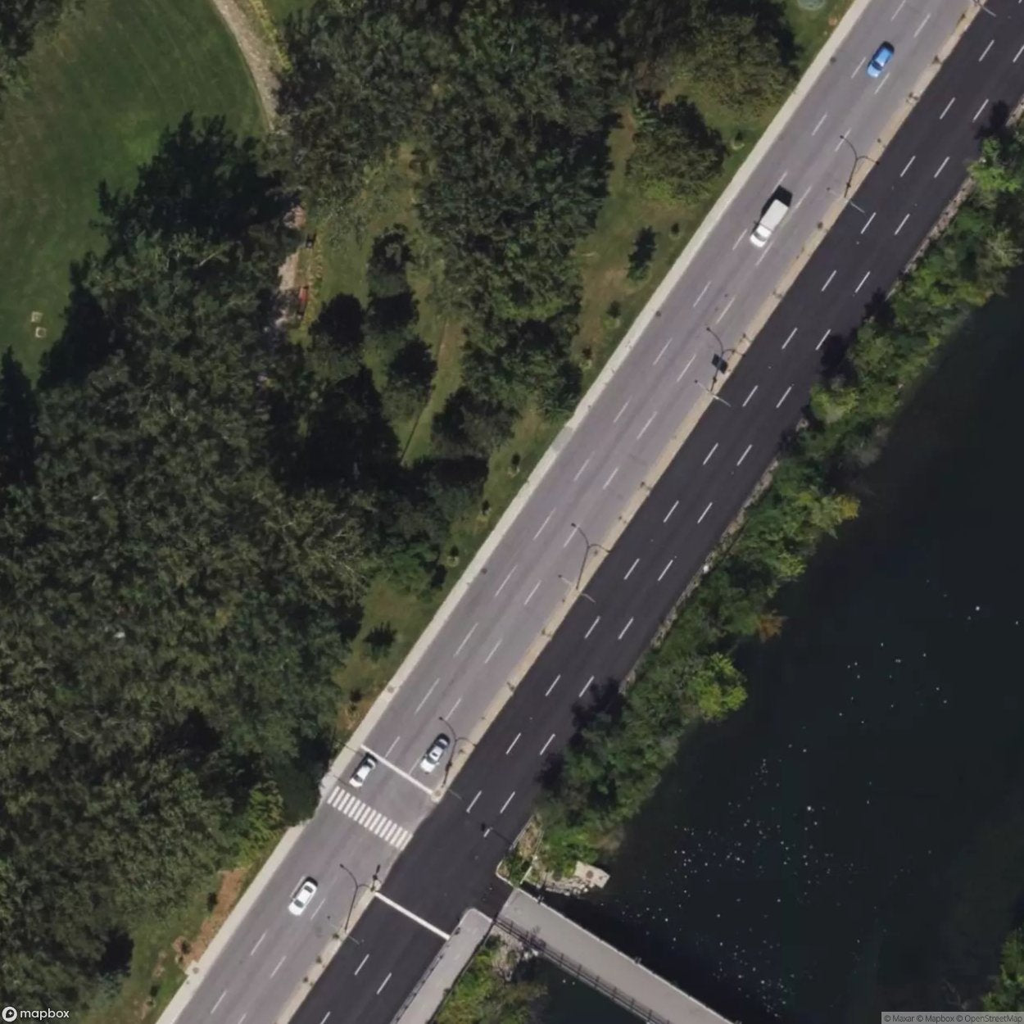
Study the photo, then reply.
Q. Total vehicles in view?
5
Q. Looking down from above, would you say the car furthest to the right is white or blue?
blue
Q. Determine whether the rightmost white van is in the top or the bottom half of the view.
top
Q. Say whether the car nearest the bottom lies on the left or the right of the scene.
left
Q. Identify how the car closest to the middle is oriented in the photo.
diagonally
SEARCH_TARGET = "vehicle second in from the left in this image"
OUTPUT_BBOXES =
[350,756,377,789]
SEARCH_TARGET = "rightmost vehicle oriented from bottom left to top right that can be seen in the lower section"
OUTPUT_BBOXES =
[420,735,450,771]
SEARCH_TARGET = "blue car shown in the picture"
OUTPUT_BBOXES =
[868,44,896,77]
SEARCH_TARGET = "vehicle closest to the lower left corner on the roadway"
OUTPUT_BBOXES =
[288,879,318,915]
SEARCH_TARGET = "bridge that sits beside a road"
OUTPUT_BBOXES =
[494,889,731,1024]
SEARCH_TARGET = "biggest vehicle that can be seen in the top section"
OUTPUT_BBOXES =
[751,199,790,248]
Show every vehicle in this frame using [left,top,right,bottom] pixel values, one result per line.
[288,879,318,915]
[420,735,450,771]
[868,44,896,77]
[751,199,790,248]
[350,756,377,789]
